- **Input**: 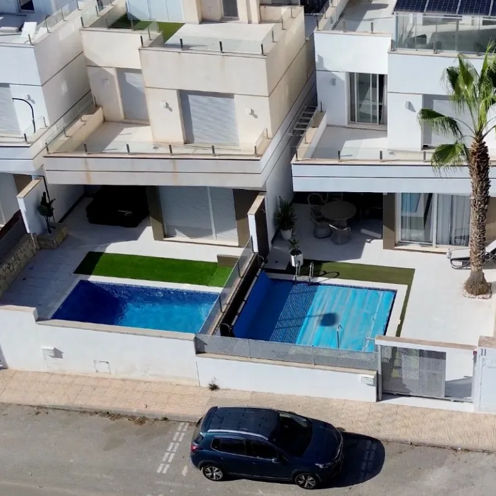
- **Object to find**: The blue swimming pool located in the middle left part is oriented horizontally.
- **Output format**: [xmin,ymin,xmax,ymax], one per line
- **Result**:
[42,272,219,328]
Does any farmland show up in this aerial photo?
No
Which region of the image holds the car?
bottom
